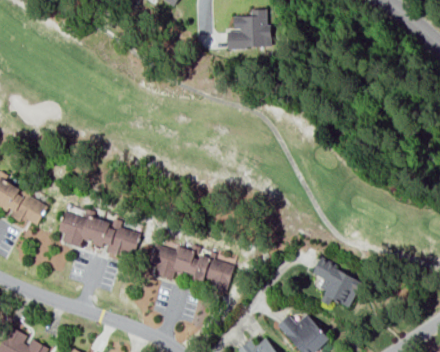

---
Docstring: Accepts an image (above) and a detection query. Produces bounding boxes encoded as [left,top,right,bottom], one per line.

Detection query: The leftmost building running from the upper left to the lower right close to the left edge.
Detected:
[0,180,48,226]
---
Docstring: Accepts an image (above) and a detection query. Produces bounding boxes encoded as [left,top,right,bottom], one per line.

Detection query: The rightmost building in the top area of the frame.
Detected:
[228,8,268,49]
